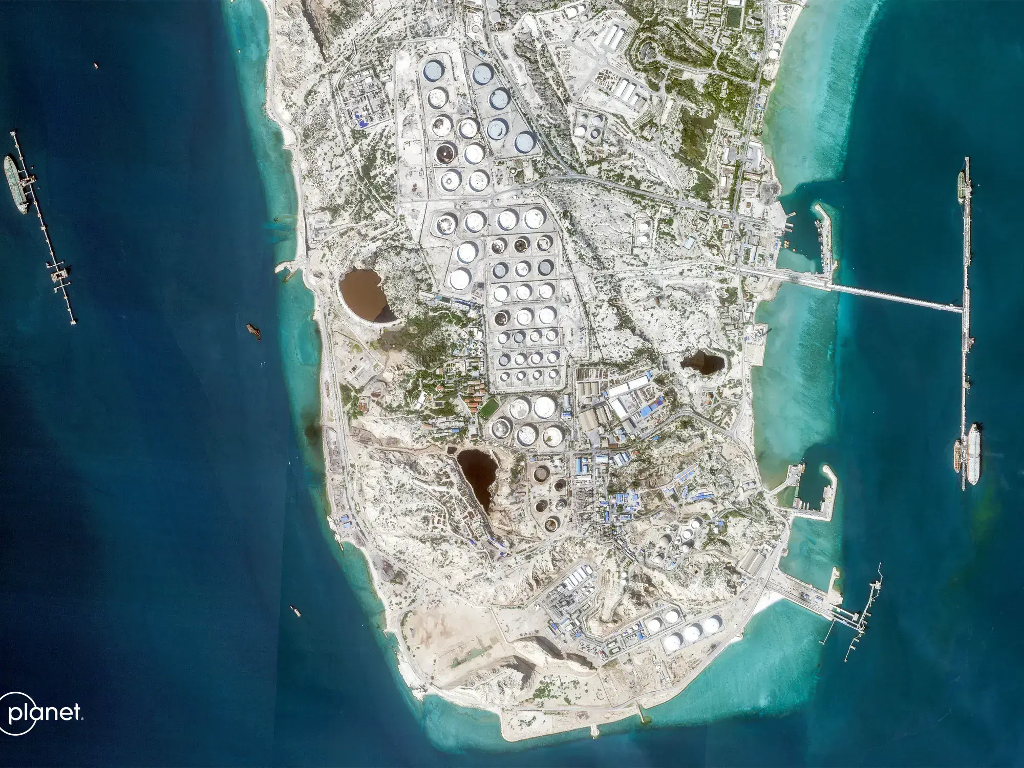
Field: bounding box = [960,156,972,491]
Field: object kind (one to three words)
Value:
pier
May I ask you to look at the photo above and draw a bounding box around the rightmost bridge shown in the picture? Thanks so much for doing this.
[832,286,963,313]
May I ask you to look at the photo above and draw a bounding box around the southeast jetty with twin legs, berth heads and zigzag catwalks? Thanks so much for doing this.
[819,563,883,661]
